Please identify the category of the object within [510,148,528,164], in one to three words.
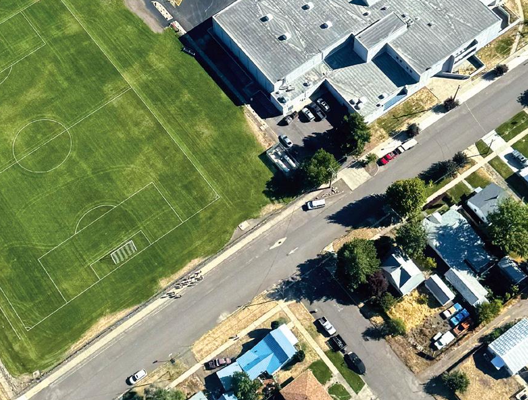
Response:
vehicle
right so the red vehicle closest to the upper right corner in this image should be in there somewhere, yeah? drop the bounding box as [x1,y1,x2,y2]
[379,150,397,165]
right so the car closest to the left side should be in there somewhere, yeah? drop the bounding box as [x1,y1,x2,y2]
[130,369,146,385]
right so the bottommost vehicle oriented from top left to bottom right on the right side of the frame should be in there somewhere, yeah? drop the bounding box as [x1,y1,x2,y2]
[347,355,363,371]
